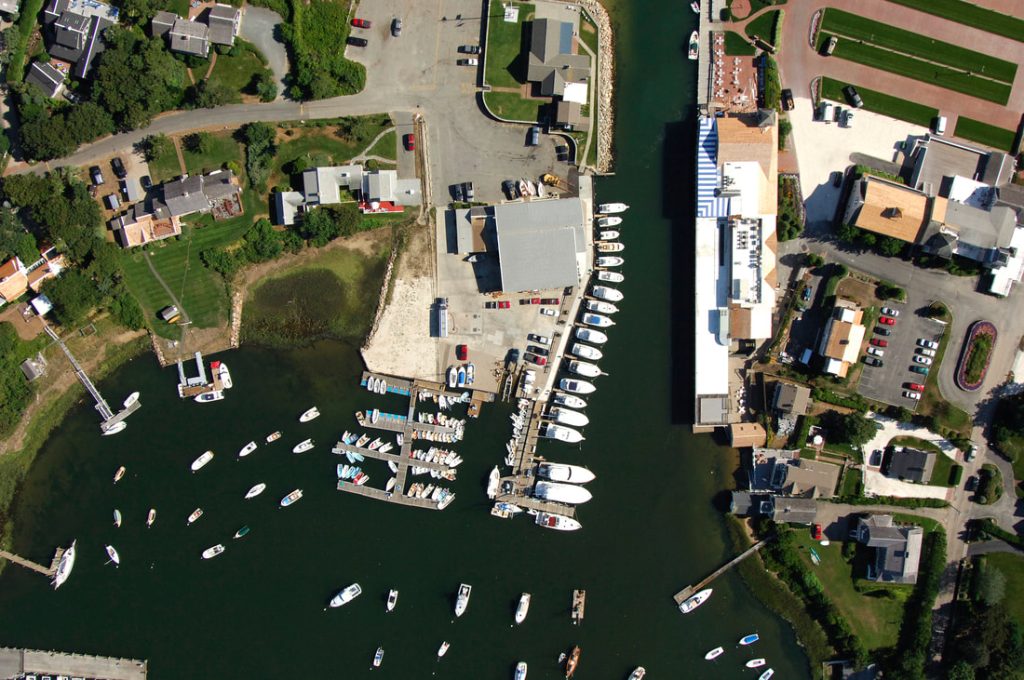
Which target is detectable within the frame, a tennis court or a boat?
boat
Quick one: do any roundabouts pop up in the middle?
No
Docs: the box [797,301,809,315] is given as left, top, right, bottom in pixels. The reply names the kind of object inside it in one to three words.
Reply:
vehicle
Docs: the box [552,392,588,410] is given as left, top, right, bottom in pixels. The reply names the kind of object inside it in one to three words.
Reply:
boat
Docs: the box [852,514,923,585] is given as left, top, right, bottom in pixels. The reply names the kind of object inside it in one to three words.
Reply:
house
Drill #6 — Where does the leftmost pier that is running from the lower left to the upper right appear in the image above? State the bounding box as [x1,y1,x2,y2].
[100,401,142,432]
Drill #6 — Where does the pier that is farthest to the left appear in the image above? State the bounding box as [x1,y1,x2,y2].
[0,547,65,577]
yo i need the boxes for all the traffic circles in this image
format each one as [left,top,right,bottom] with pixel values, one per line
[955,319,998,391]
